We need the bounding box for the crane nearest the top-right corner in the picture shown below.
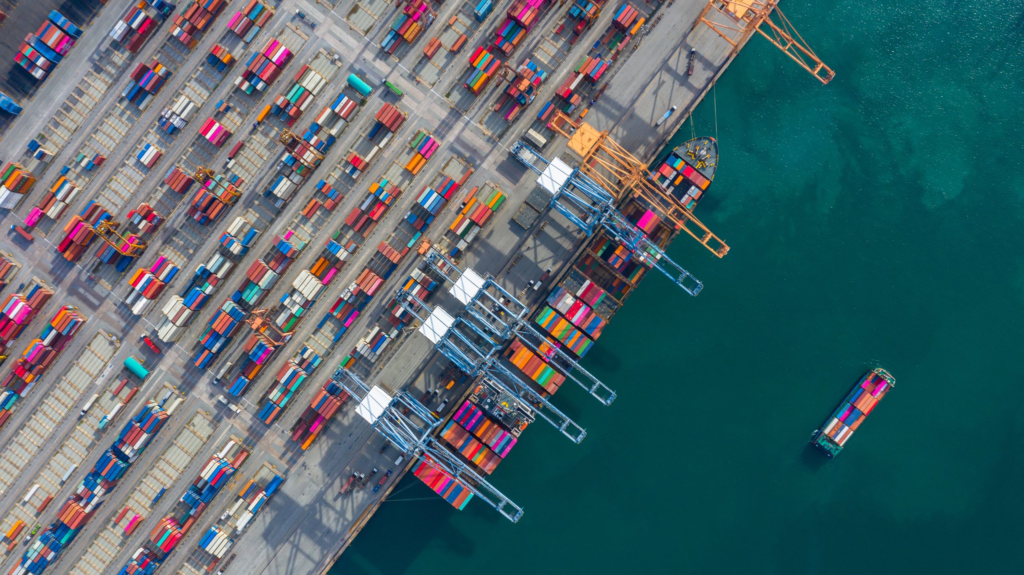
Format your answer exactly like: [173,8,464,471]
[689,0,841,84]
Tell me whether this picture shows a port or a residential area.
port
